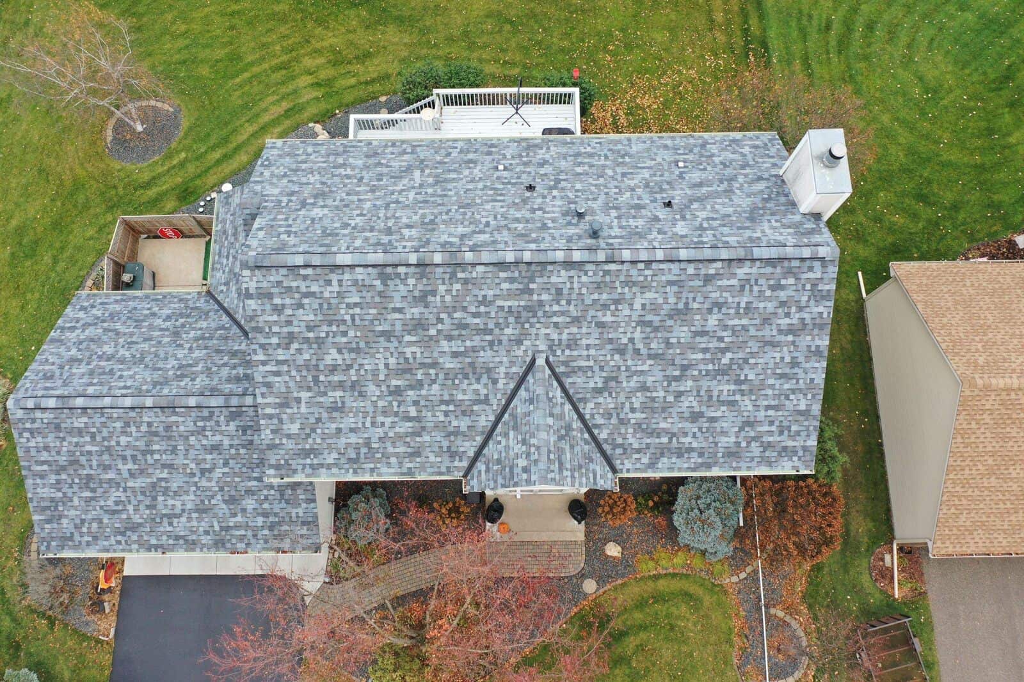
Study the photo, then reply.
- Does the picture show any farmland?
No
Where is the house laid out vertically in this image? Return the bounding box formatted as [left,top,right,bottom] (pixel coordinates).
[858,260,1024,596]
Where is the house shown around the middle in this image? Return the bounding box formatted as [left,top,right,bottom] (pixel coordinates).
[8,129,853,557]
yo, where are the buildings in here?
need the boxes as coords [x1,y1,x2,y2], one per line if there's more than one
[8,129,853,557]
[858,260,1024,596]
